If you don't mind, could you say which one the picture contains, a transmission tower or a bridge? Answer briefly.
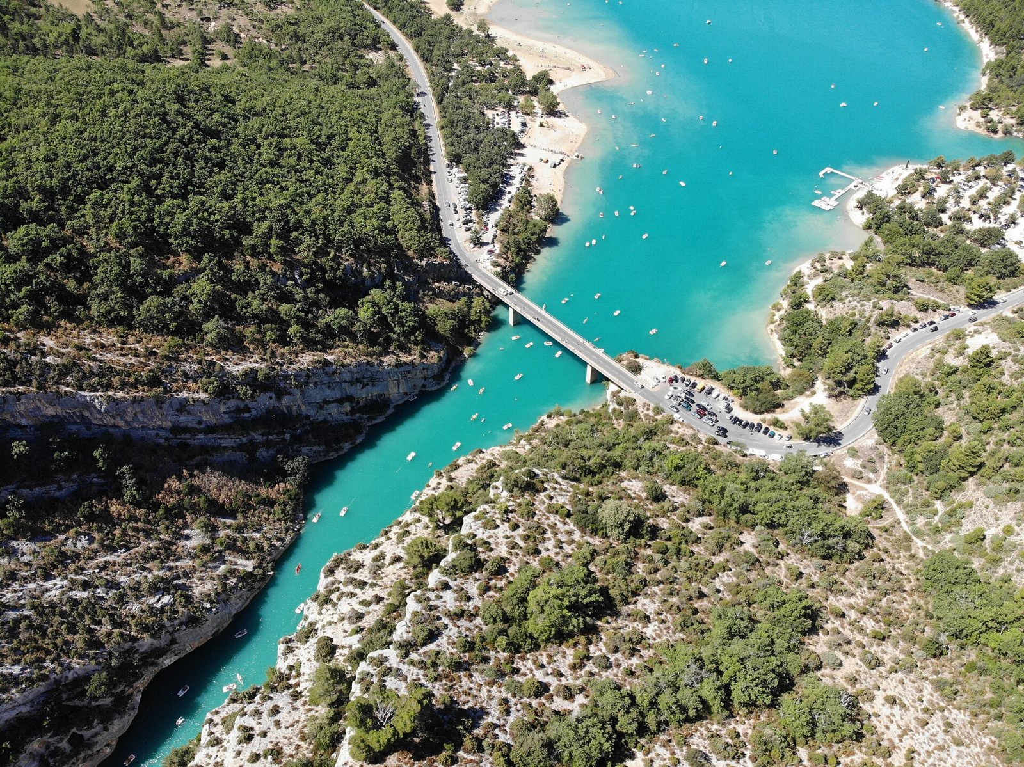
bridge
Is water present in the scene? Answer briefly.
Yes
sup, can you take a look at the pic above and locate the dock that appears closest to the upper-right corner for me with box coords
[816,167,867,209]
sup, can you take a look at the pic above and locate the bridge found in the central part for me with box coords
[469,265,653,400]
